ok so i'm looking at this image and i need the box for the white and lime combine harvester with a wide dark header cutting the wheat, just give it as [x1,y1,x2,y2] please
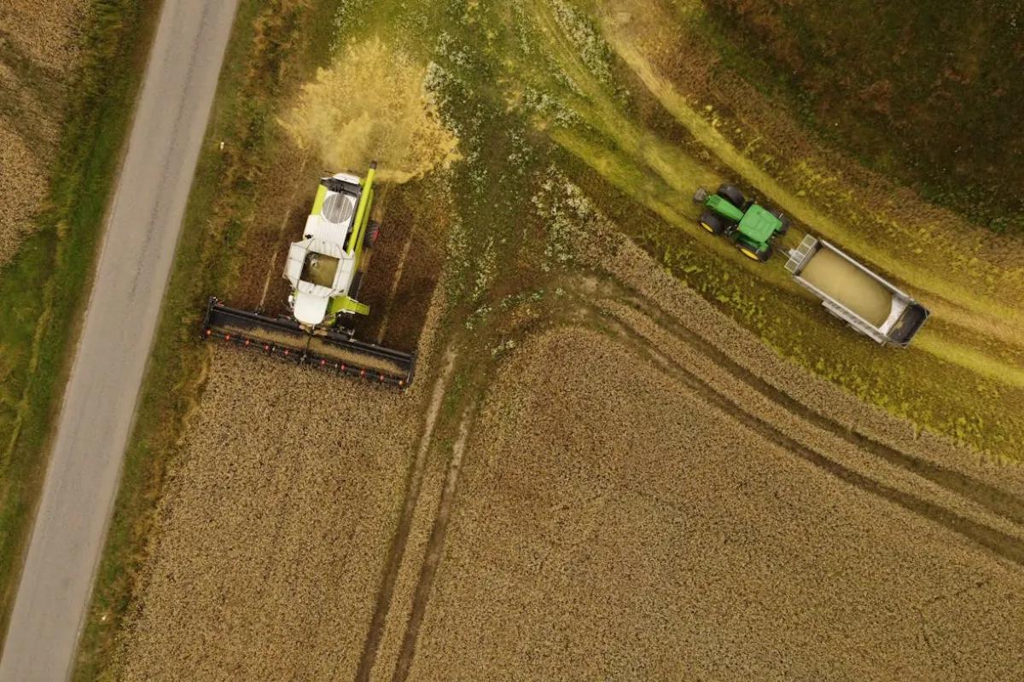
[200,160,420,398]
